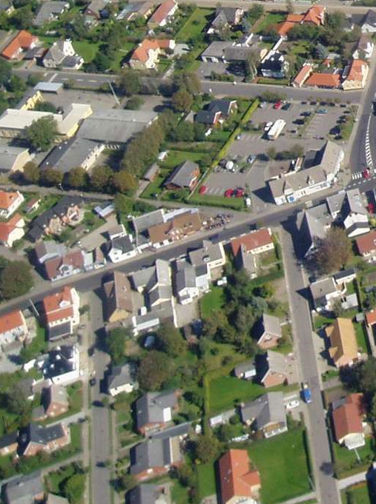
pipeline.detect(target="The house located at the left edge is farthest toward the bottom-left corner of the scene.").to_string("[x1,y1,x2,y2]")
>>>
[6,465,46,504]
